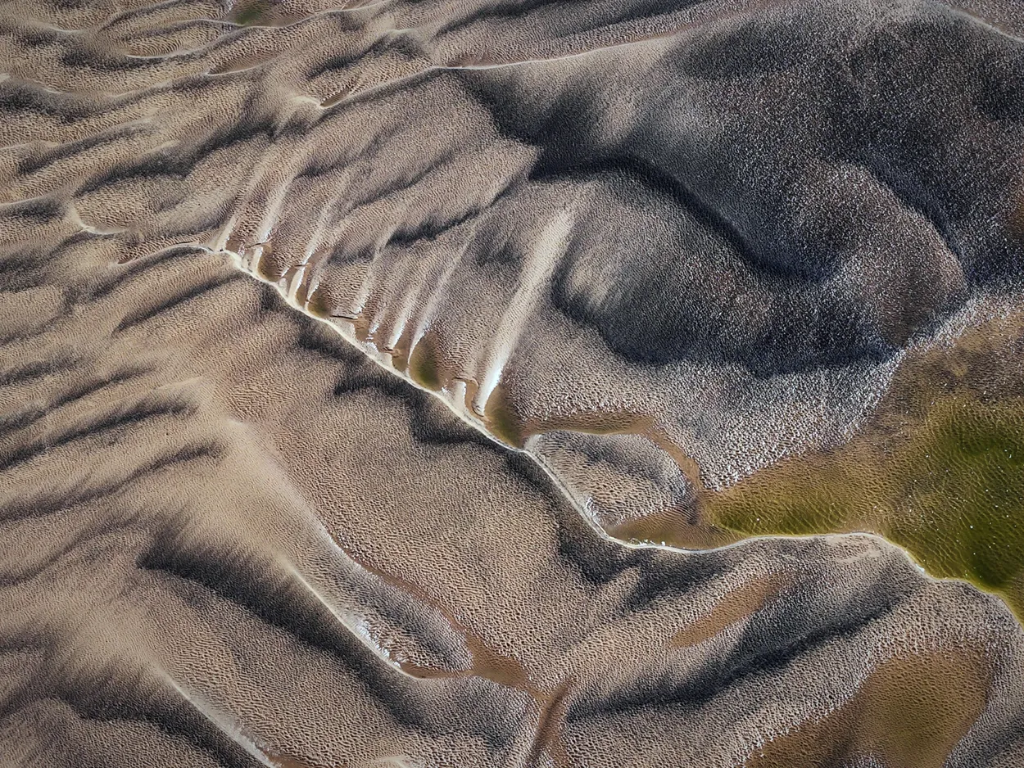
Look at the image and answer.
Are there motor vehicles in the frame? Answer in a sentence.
No, the scene contains no motor vehicle.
